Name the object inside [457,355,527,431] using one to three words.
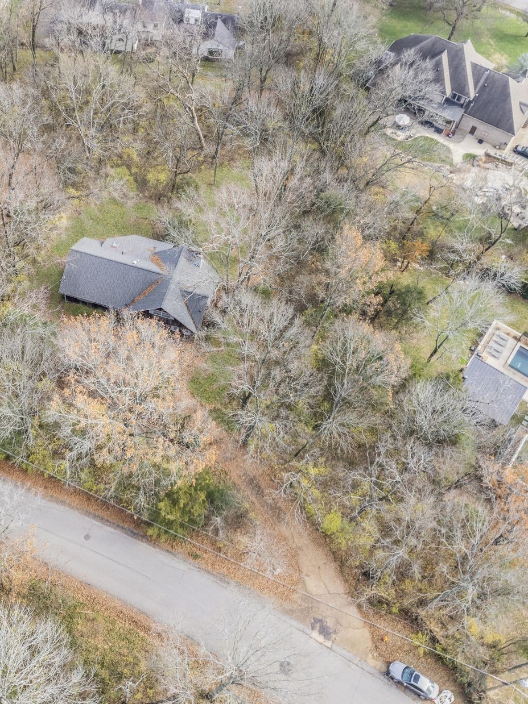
building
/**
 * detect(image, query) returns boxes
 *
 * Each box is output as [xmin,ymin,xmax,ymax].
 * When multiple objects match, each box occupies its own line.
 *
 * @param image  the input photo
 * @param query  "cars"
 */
[510,138,528,155]
[388,661,442,704]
